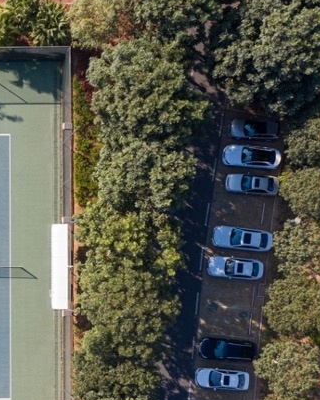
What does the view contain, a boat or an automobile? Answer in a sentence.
This aerial view contains an automobile.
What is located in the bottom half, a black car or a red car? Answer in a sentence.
Looking in the bottom half, you will find a black car.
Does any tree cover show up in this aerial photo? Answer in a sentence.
Yes, tree cover shows up in the scene.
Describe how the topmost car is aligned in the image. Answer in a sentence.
In this picture, the topmost car is oriented horizontally.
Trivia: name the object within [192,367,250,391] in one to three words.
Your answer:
car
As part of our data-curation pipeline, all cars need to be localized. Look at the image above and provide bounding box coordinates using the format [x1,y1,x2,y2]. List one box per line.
[204,255,264,279]
[196,336,258,361]
[192,367,250,391]
[222,171,280,197]
[220,143,282,169]
[210,226,272,251]
[225,115,281,142]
